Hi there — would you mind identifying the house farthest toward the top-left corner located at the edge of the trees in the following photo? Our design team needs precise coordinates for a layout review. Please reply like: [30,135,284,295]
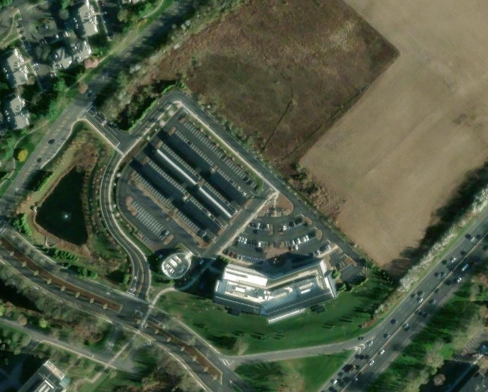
[2,44,35,86]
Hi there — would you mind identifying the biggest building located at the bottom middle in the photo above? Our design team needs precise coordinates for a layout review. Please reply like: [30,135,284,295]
[212,256,341,323]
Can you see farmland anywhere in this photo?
Yes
